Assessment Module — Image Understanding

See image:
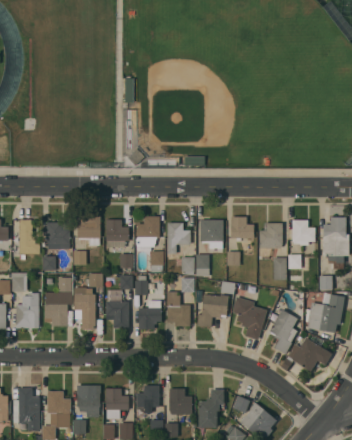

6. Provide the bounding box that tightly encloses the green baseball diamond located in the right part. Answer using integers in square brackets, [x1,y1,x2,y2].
[124,0,352,167]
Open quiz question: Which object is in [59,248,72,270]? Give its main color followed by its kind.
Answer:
blue swimming pool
